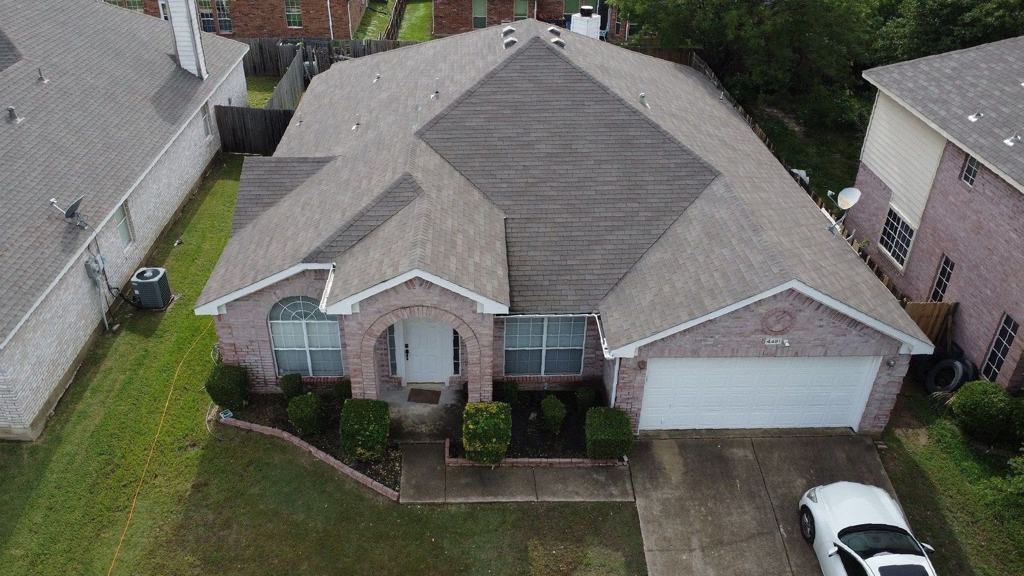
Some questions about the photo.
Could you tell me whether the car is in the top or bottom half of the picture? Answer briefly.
bottom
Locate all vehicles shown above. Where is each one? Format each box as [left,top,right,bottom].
[794,483,939,576]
